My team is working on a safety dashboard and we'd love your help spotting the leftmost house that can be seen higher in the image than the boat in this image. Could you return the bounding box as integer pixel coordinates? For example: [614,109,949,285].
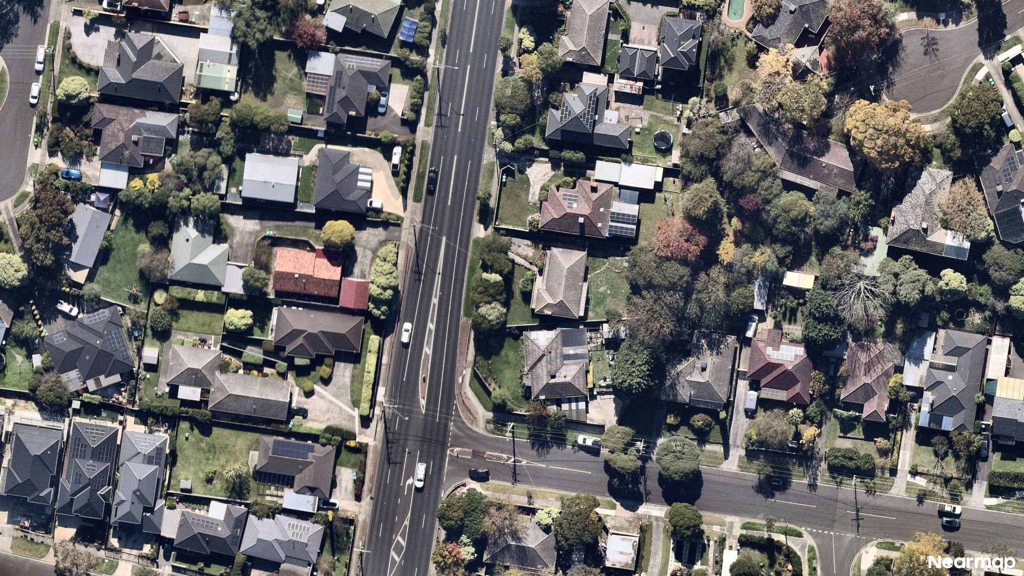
[63,202,111,267]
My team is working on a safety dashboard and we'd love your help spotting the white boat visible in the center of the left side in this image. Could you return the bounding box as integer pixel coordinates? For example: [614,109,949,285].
[55,299,81,315]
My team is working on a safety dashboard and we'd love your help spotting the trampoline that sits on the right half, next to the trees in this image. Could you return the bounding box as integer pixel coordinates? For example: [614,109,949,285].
[654,129,673,148]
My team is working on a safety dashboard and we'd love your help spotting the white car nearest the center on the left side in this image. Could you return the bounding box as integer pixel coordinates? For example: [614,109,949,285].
[400,320,413,346]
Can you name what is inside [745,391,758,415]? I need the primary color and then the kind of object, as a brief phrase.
white vehicle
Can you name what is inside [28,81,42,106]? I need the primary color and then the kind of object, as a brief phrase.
white car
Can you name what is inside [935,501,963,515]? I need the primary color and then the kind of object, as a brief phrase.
white vehicle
